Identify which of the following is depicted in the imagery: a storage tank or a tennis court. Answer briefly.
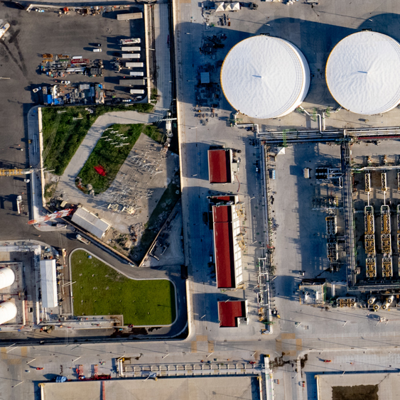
storage tank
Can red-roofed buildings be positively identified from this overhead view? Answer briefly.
Yes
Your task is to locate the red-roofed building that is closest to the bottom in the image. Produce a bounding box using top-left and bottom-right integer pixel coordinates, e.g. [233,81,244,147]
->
[218,298,249,328]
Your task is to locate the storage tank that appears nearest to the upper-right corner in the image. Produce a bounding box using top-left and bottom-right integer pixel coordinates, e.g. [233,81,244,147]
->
[326,28,400,116]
